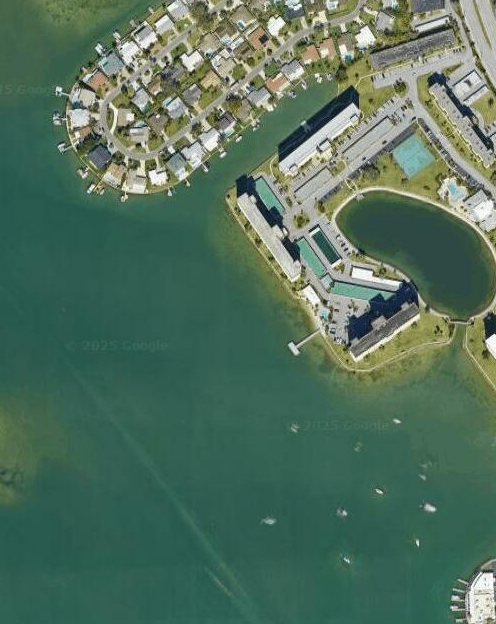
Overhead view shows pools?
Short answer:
Yes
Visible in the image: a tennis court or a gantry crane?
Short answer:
tennis court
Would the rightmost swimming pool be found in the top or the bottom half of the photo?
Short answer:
top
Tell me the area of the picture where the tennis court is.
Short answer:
top right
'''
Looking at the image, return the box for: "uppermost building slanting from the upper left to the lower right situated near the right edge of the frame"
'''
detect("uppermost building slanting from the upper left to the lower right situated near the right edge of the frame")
[429,83,494,171]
